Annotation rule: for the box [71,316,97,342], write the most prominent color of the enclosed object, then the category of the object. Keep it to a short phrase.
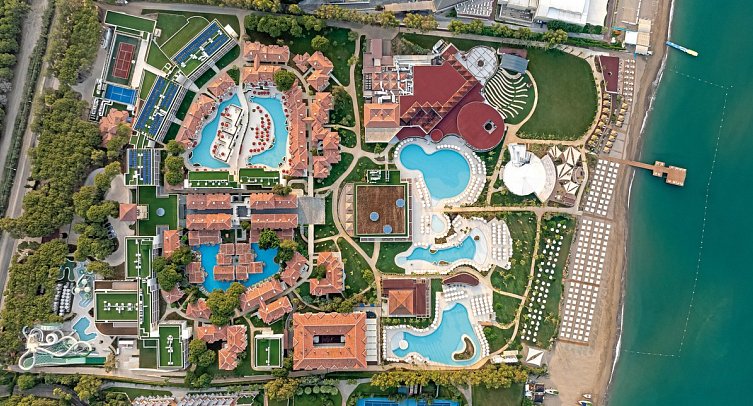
blue swimming pool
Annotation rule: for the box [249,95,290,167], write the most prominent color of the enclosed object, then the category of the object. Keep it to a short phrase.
blue swimming pool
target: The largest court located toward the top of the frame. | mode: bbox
[104,31,141,85]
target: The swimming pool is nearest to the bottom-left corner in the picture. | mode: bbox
[23,352,66,367]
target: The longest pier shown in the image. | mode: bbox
[611,156,687,186]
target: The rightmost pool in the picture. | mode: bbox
[471,228,488,266]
